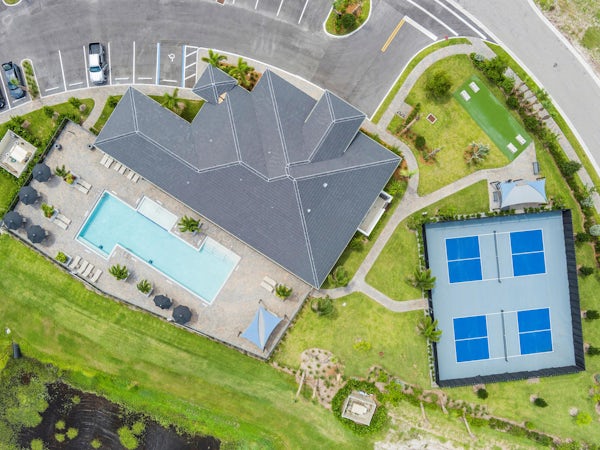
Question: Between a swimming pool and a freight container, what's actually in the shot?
swimming pool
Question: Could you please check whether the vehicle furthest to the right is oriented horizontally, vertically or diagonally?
vertically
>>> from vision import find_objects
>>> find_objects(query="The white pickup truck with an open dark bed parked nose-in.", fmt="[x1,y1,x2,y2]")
[88,41,108,86]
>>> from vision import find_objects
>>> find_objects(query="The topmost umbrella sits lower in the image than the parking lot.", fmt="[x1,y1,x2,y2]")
[32,163,53,182]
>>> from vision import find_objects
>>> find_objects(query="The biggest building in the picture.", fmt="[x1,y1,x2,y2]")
[93,62,402,288]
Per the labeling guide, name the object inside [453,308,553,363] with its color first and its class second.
blue sports court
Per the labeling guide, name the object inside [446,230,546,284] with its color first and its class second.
blue sports court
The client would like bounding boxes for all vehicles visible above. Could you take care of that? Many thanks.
[2,63,28,100]
[88,41,108,86]
[0,89,6,107]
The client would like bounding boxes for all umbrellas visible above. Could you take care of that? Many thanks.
[172,305,191,324]
[154,295,171,310]
[19,186,40,205]
[32,163,53,182]
[26,225,47,244]
[5,212,26,230]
